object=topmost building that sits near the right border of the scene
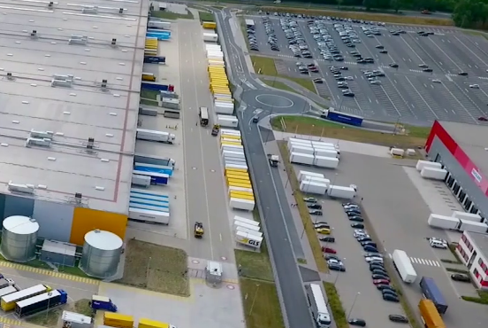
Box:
[425,126,488,235]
